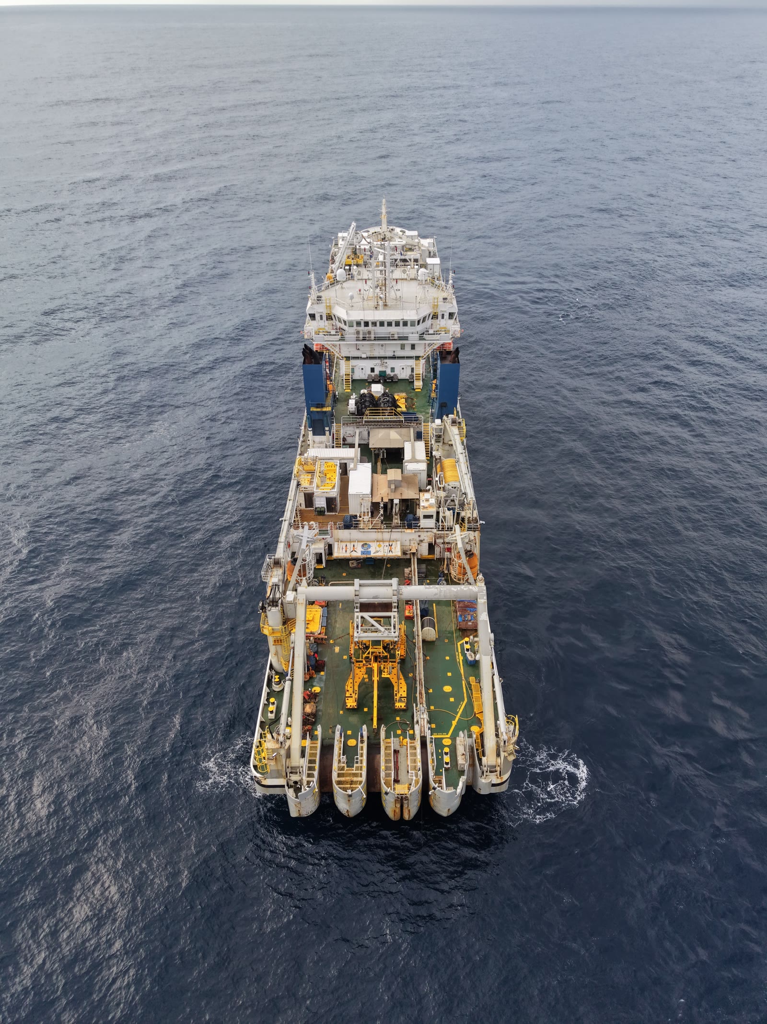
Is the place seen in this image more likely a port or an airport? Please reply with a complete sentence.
This image shows a port.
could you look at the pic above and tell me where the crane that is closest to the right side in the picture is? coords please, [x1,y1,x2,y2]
[431,405,477,539]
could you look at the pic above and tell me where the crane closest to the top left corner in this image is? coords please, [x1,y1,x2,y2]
[332,219,385,280]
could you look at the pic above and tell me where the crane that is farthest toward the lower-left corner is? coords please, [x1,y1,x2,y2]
[256,469,310,673]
